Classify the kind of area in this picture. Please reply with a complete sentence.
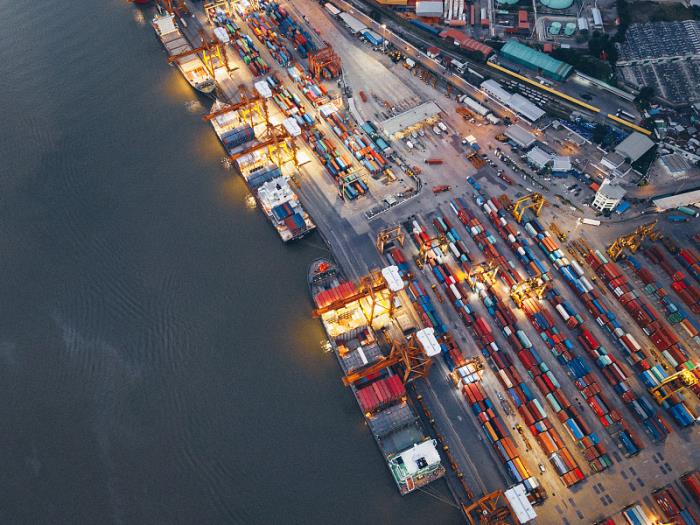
The picture captures a port.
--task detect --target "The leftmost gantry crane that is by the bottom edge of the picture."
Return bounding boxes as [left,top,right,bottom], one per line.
[471,479,543,525]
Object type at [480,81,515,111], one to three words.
building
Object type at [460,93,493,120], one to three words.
shed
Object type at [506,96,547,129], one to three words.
building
